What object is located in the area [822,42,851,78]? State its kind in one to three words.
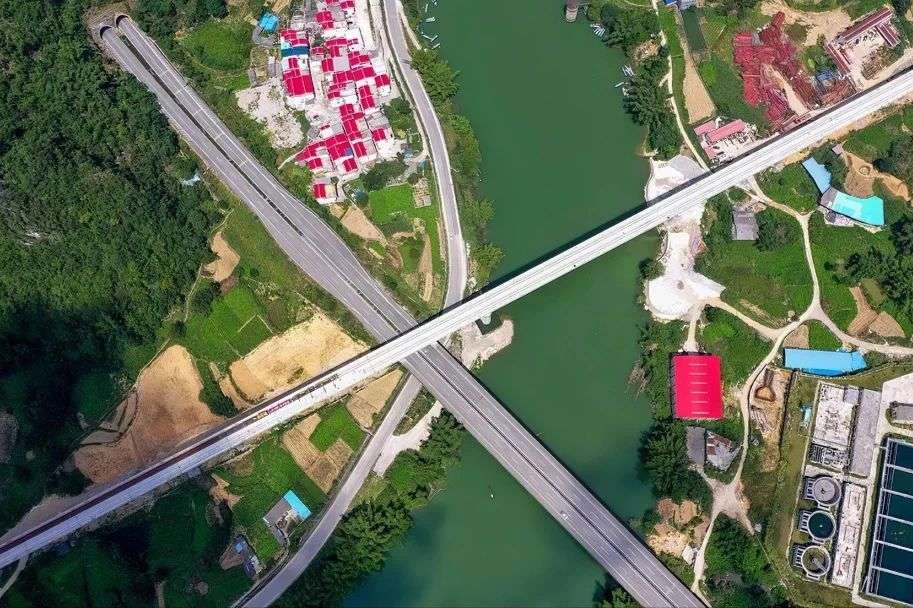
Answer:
building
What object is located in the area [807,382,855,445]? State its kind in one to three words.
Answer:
building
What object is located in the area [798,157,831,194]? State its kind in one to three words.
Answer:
shed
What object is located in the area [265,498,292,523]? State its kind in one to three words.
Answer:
house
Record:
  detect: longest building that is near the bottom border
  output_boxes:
[827,481,867,588]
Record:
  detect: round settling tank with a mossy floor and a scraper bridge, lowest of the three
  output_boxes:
[788,545,831,580]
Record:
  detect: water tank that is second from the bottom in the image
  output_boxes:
[794,510,836,545]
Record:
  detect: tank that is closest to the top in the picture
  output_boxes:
[802,475,842,508]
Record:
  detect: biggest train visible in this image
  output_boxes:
[252,373,338,420]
